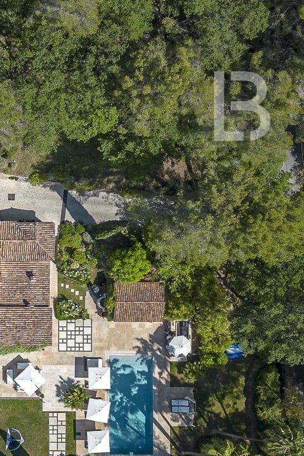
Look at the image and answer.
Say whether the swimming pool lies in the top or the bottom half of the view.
bottom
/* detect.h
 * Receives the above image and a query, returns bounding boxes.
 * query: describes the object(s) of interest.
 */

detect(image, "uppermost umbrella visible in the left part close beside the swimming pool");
[87,367,110,390]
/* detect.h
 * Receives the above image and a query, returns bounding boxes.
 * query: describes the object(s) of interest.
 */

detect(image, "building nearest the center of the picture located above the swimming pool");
[107,282,165,322]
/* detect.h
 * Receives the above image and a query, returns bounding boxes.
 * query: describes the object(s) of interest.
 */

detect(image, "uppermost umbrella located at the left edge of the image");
[13,364,46,396]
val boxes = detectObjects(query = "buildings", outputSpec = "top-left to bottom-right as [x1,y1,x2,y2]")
[0,221,56,347]
[107,282,165,322]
